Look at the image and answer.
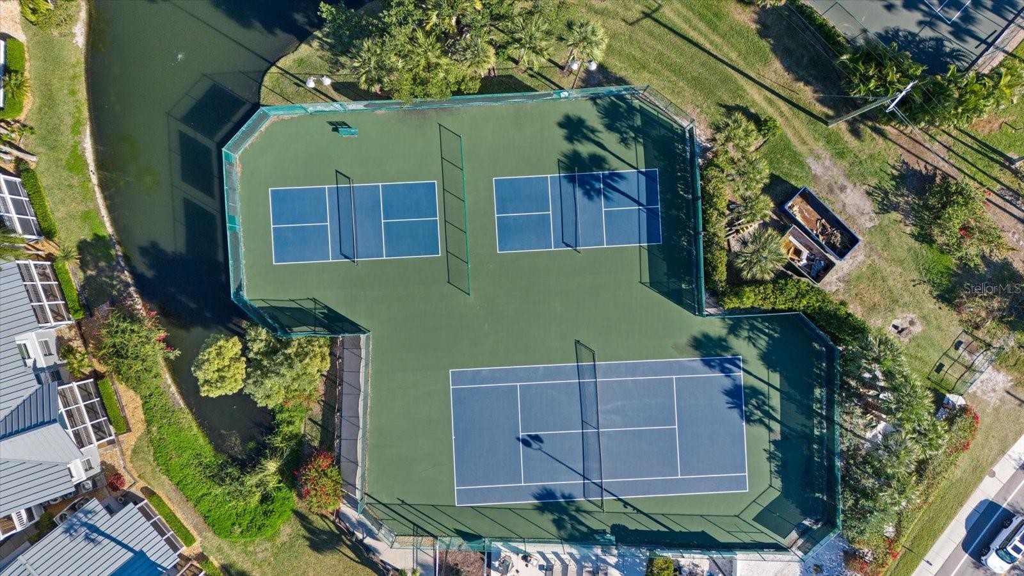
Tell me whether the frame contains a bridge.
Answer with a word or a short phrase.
No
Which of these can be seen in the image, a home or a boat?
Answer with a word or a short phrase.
home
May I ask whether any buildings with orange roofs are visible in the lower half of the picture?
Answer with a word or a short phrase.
No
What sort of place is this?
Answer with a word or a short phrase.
sports ground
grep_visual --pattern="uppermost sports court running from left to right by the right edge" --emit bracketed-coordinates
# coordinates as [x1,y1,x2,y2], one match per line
[804,0,1024,71]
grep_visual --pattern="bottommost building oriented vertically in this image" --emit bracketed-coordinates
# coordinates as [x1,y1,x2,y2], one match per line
[0,259,119,544]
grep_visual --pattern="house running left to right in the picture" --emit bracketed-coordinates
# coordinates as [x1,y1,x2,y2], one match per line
[0,497,189,576]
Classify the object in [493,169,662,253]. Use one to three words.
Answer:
sports court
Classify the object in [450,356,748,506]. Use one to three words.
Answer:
tennis court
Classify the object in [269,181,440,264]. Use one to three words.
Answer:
sports court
